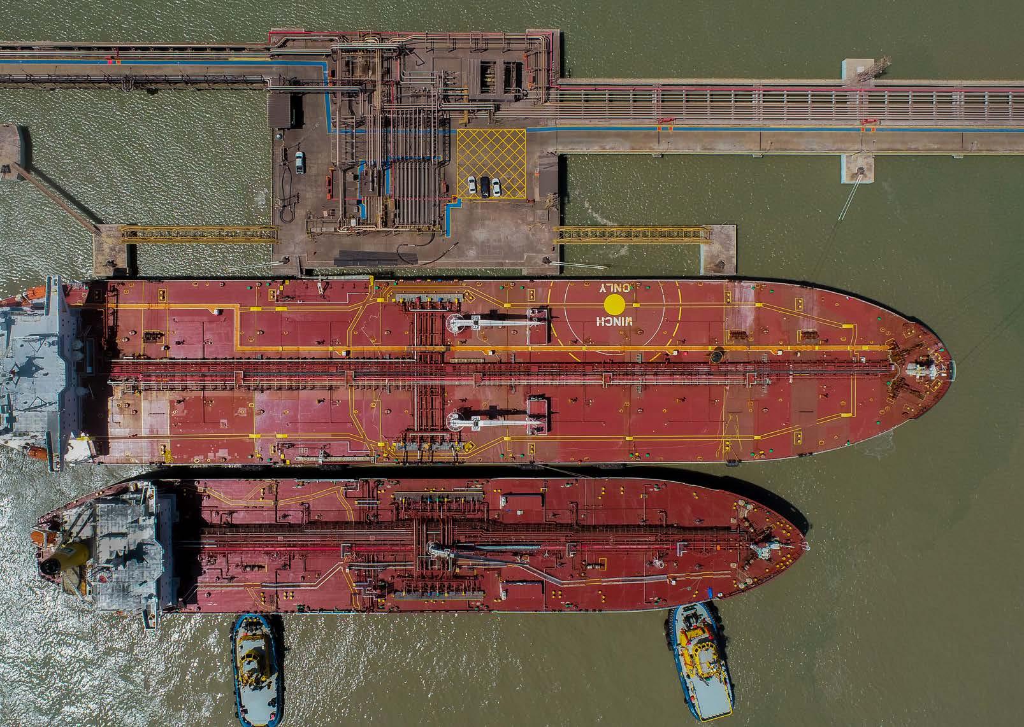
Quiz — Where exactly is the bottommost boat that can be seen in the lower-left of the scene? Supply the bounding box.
[232,615,282,727]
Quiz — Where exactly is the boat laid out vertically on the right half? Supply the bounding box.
[669,603,738,723]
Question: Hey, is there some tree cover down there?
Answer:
No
